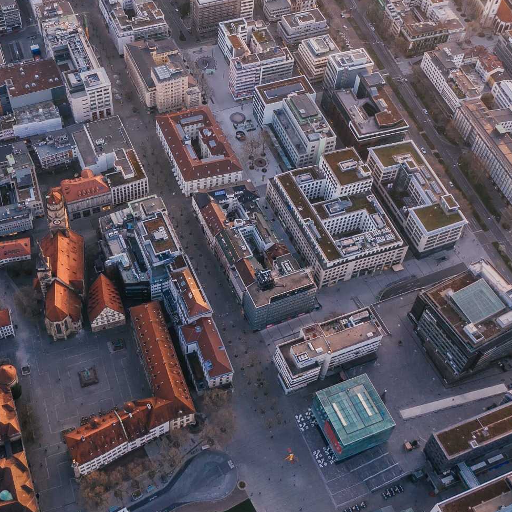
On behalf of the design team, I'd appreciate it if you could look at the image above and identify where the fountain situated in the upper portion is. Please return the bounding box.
[194,56,217,70]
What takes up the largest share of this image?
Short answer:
buildings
